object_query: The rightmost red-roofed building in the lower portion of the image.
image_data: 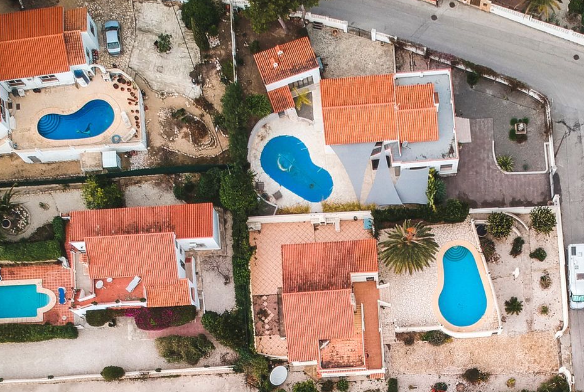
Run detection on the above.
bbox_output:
[281,239,384,373]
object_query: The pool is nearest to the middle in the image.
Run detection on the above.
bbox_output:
[258,132,336,205]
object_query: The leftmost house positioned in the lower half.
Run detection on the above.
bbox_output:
[68,202,218,315]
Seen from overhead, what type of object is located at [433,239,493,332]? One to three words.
swimming pool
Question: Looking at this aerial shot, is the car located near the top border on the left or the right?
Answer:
left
